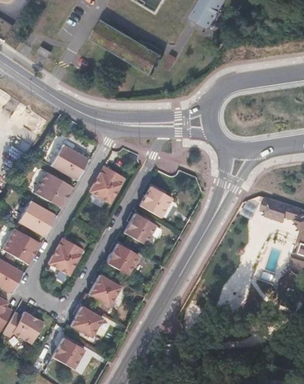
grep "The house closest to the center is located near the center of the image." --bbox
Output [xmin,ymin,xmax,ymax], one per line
[140,186,174,220]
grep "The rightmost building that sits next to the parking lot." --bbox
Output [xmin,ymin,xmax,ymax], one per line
[88,18,161,76]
